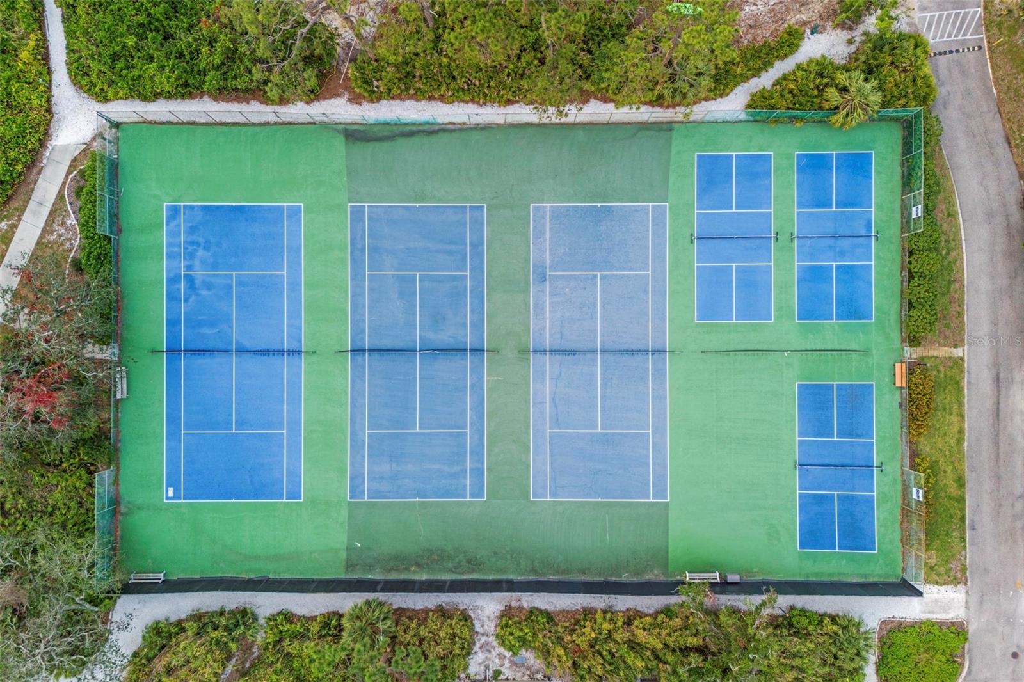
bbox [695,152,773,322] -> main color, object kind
blue sports court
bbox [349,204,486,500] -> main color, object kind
blue tennis court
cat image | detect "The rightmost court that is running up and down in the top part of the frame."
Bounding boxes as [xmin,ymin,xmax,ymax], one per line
[796,151,874,321]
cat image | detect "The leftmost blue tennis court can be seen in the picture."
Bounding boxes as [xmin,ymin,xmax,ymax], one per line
[164,204,303,501]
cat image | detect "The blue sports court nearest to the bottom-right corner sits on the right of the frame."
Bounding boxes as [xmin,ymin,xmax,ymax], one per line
[797,383,876,552]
